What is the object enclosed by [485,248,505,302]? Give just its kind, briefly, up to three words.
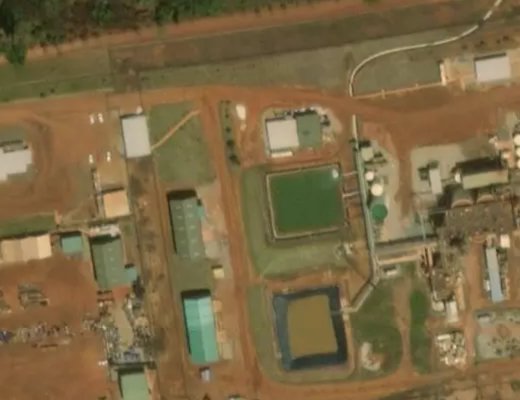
shed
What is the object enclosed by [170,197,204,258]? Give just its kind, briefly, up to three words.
building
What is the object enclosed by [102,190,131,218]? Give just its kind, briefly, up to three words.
house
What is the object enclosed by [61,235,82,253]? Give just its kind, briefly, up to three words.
shed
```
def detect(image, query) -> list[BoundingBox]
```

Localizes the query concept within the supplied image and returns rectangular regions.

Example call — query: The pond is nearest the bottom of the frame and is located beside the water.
[272,285,348,372]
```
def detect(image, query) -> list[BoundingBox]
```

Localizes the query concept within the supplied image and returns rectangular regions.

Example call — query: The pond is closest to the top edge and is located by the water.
[268,163,347,238]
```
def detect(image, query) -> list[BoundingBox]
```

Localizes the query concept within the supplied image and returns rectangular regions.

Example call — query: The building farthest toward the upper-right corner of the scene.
[475,56,510,82]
